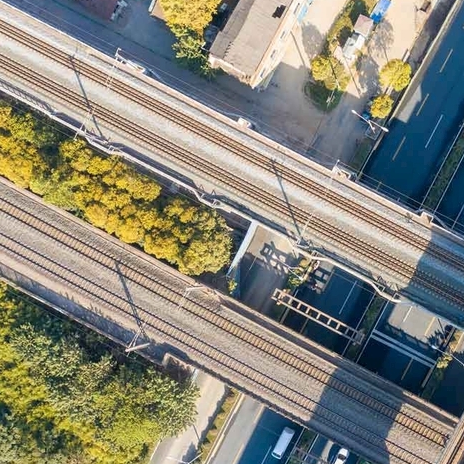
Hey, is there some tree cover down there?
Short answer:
Yes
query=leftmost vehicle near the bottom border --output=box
[270,427,296,461]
